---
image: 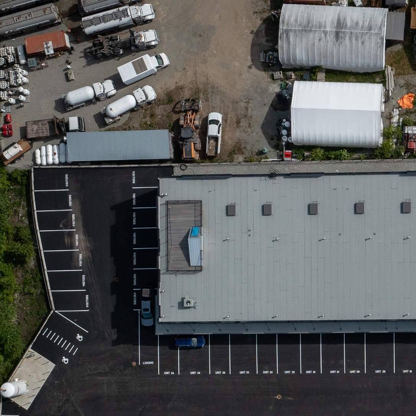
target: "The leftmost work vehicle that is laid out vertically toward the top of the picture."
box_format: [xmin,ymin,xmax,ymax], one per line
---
[180,100,203,161]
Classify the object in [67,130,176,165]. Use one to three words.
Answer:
shed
